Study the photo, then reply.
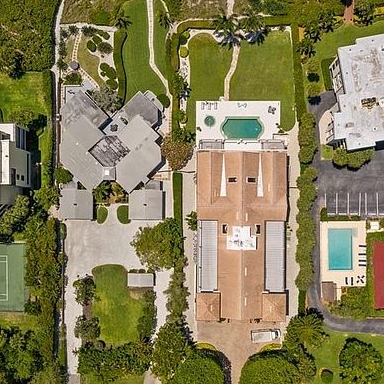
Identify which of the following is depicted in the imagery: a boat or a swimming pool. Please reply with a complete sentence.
Looking from above, you can make out a swimming pool.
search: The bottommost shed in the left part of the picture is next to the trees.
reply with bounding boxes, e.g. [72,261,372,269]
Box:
[128,273,154,287]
